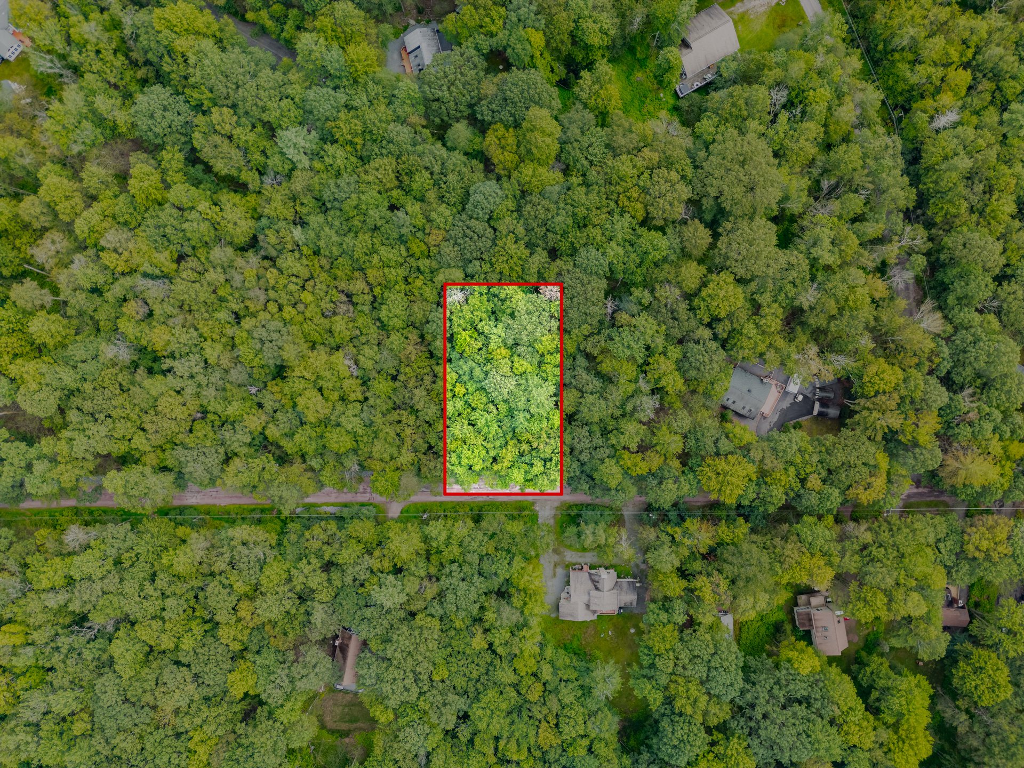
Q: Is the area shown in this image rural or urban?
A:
rural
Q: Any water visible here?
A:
No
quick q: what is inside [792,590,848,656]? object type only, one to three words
house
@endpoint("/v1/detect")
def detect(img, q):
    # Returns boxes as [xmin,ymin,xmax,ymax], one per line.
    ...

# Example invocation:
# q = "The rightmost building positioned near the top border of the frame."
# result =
[674,3,740,101]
